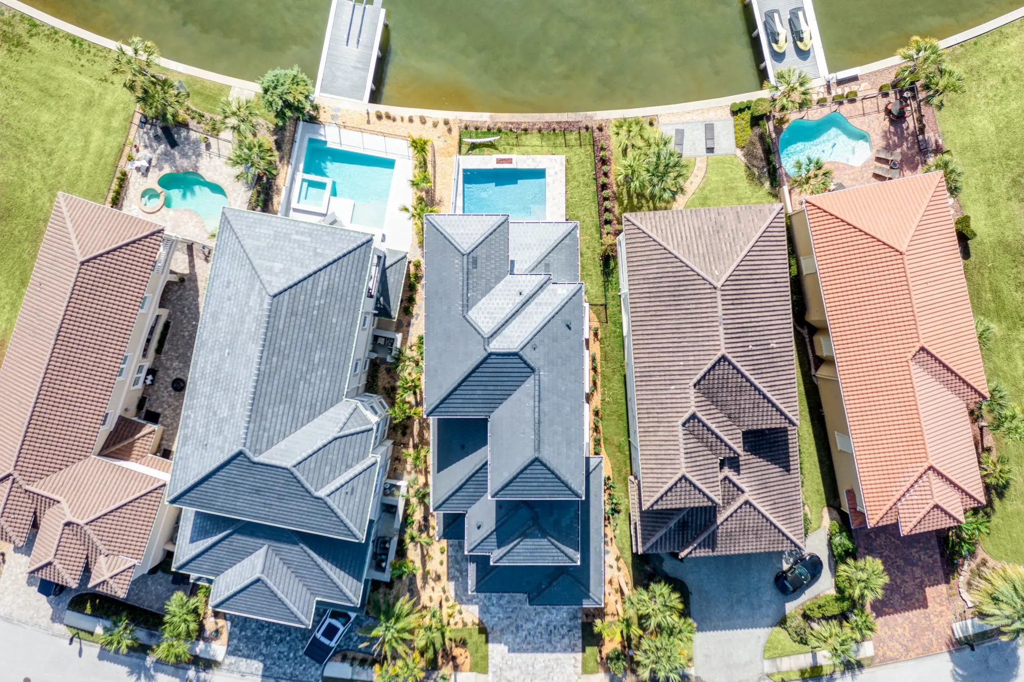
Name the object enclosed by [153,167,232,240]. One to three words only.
swimming pool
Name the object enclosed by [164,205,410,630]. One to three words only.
house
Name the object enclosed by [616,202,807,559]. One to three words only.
house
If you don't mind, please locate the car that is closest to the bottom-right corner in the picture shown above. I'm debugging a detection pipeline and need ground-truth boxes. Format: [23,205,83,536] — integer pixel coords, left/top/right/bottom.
[771,551,827,598]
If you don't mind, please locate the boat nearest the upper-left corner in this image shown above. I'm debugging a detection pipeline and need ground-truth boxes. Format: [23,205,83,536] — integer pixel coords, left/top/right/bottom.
[463,136,501,148]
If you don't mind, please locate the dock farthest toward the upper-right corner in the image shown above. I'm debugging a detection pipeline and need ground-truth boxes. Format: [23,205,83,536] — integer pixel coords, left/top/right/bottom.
[741,0,829,85]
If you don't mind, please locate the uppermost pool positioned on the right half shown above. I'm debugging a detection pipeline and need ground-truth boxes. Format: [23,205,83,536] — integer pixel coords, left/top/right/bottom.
[778,110,874,179]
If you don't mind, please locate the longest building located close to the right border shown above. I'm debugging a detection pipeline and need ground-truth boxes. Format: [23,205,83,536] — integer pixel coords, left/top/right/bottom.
[779,169,991,537]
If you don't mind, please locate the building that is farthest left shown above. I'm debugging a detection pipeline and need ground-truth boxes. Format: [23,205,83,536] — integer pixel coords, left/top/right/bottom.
[0,191,201,600]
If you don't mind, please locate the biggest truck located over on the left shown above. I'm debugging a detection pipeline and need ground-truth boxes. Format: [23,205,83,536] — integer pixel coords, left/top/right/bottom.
[302,612,358,667]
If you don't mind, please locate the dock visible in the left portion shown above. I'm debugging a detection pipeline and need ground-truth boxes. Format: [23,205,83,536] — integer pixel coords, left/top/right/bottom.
[315,0,391,105]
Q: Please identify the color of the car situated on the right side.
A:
black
